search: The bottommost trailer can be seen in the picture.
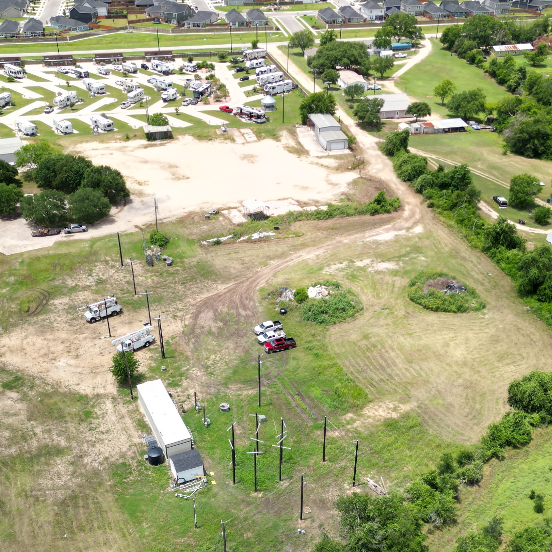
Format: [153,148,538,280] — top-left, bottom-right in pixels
[135,380,193,467]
